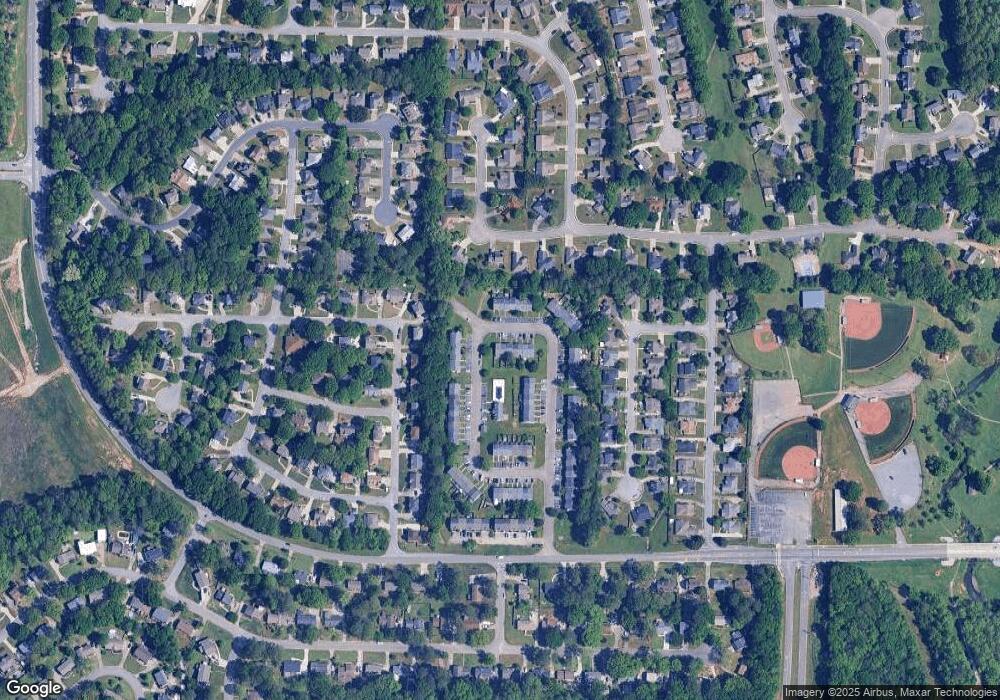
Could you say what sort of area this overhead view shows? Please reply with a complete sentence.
The area seen from above is a residential area.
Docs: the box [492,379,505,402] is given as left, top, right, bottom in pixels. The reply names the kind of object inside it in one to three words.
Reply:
swimming pool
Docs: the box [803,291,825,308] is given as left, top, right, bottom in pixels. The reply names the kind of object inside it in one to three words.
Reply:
building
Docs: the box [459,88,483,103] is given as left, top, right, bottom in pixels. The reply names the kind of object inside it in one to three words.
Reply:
house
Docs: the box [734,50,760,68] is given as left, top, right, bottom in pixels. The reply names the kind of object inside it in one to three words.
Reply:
house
